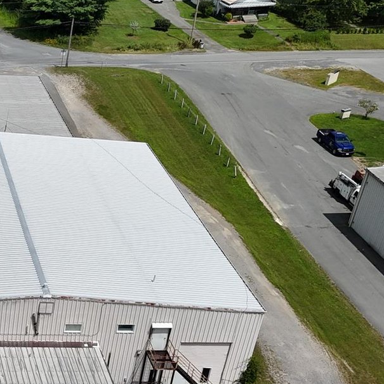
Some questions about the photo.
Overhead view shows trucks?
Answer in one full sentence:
Yes, the frame does contain a truck.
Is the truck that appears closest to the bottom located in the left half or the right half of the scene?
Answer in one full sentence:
The truck that appears closest to the bottom is on the right side of the image.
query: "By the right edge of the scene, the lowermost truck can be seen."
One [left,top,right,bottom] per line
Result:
[326,165,365,207]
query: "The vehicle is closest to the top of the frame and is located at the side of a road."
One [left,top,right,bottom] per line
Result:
[318,127,357,153]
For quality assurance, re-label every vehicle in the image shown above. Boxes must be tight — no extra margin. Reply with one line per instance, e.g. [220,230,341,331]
[318,127,357,153]
[326,165,365,207]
